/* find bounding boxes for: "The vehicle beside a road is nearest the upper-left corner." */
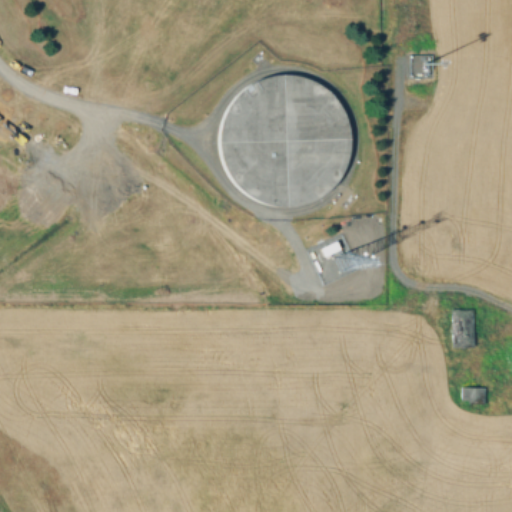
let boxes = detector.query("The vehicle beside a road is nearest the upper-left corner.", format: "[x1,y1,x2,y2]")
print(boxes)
[10,61,35,77]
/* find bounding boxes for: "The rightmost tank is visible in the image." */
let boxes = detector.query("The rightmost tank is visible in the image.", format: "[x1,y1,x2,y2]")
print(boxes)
[218,75,354,208]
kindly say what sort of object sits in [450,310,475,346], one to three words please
building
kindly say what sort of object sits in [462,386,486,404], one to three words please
building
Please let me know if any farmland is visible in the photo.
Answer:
Yes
